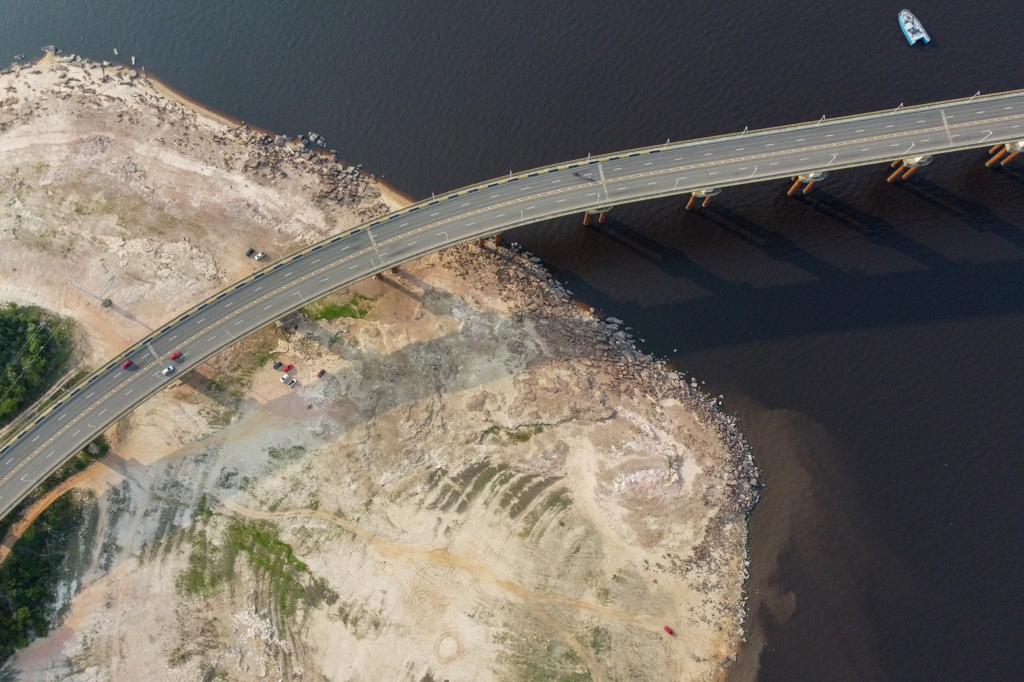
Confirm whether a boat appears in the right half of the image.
Yes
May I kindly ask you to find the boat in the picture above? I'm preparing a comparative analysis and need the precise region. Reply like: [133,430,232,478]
[899,6,931,45]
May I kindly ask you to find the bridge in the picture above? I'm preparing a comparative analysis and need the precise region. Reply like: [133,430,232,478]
[0,87,1024,522]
